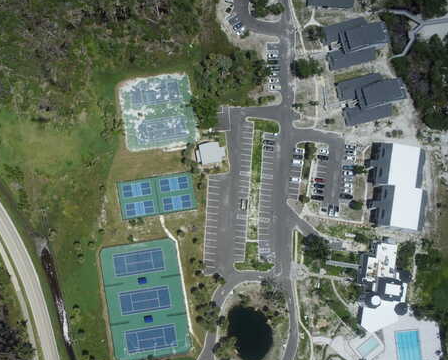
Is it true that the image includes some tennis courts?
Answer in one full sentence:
Yes, I can see a tennis court in this picture.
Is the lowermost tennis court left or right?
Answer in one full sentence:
You can find the lowermost tennis court on the left side of the picture.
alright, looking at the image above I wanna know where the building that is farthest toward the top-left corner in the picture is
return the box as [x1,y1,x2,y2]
[194,141,226,165]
